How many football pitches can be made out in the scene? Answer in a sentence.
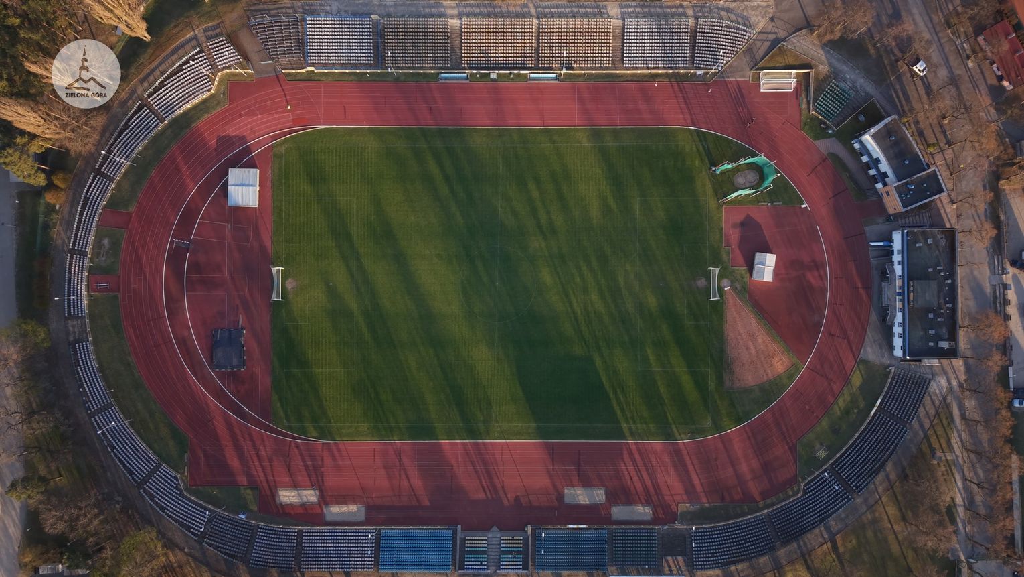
There is 1 football pitch in the image.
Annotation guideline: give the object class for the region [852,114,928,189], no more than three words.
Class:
building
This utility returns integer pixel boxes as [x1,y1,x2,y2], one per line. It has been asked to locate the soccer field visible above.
[272,128,804,440]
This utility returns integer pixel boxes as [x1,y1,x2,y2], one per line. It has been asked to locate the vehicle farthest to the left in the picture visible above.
[910,59,929,78]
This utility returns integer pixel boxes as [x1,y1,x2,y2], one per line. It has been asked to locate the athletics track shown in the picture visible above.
[89,70,887,526]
